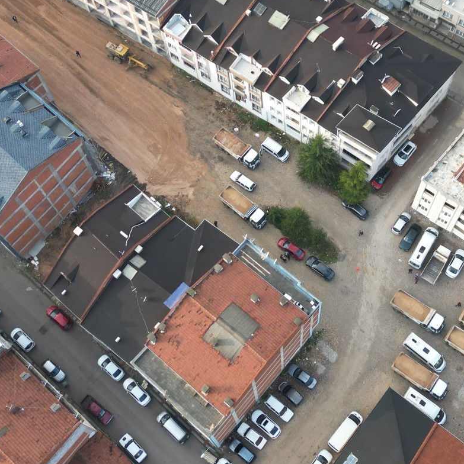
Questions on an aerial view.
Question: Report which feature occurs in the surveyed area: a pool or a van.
van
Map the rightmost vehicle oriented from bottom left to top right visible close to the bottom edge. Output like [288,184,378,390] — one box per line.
[326,408,365,452]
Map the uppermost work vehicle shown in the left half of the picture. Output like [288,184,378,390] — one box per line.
[105,40,152,73]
